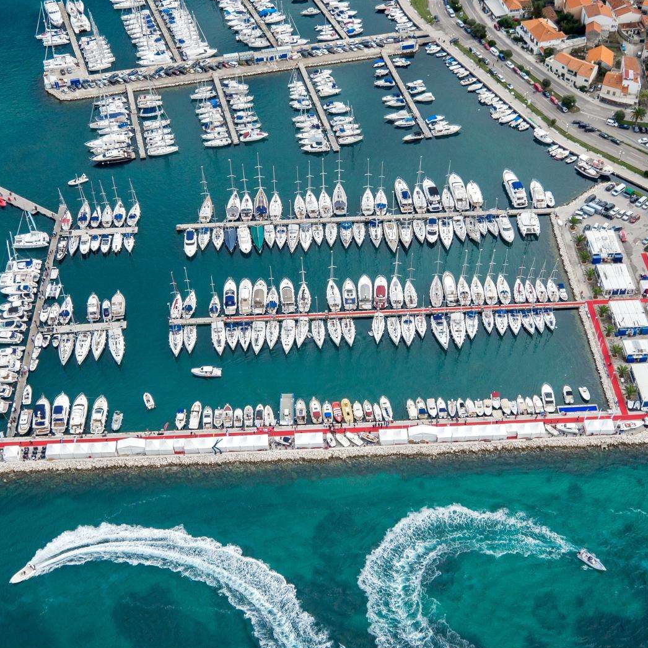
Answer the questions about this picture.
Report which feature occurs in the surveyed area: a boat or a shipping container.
boat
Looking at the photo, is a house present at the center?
No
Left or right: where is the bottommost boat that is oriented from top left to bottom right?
right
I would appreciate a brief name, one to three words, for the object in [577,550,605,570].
boat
